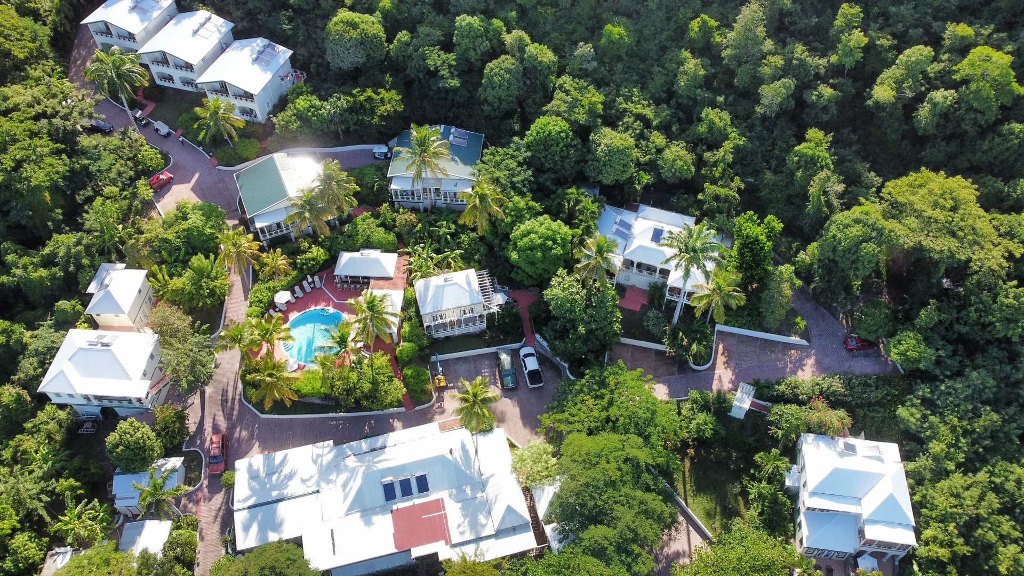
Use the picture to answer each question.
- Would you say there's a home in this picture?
Yes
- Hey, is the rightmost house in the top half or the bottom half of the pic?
bottom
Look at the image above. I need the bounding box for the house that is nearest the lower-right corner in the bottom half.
[775,433,918,576]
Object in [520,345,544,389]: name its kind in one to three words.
truck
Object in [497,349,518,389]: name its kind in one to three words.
car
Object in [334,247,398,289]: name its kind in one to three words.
building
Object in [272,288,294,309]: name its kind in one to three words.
umbrella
